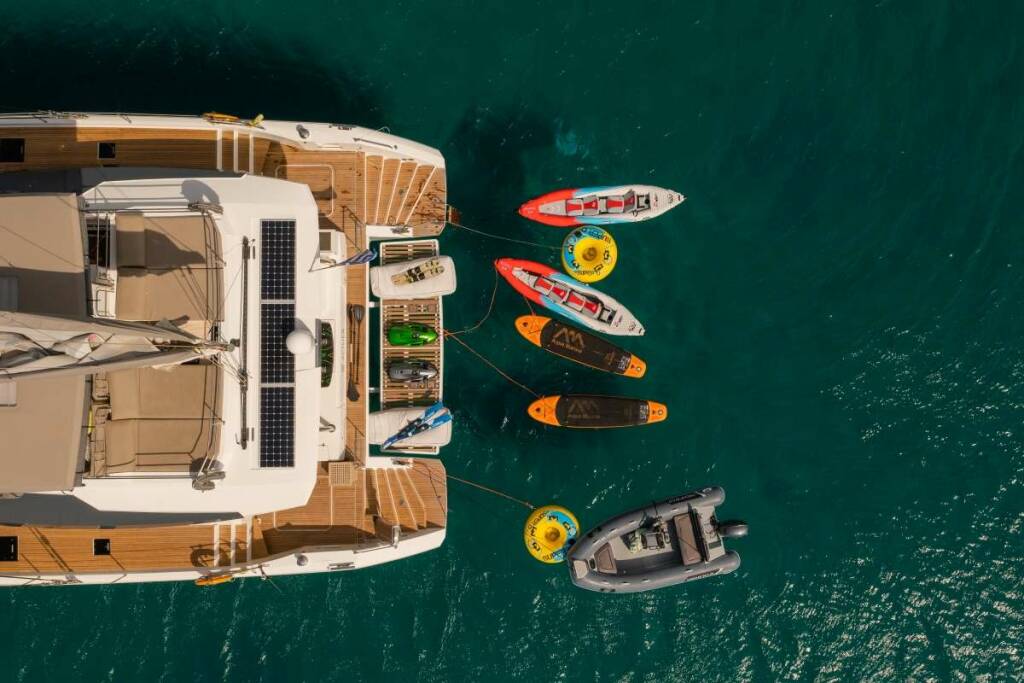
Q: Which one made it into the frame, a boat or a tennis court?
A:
boat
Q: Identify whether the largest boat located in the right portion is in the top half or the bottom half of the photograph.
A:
bottom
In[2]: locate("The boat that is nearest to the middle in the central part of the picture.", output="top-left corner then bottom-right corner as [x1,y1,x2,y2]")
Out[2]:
[494,259,647,334]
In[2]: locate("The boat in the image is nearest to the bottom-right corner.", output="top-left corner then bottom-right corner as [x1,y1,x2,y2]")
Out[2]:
[566,486,747,591]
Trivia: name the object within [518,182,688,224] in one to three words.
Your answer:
boat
